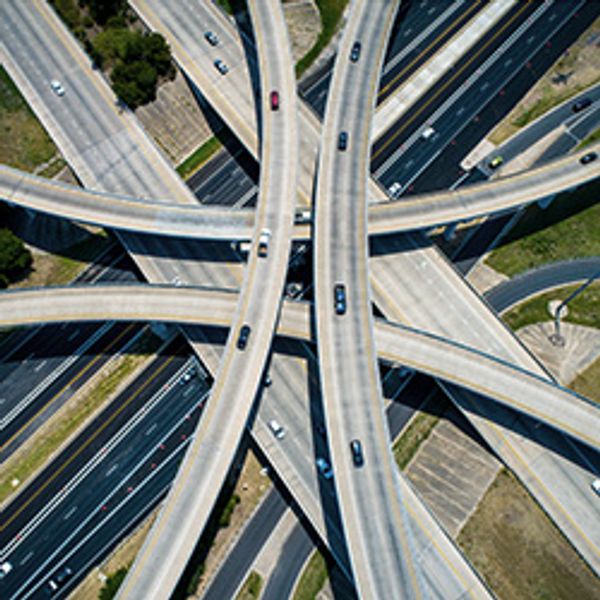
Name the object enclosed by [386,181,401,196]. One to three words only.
car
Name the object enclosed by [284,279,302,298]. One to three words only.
car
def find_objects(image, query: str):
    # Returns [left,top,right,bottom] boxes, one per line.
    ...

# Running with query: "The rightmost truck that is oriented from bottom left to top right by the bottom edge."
[47,565,76,594]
